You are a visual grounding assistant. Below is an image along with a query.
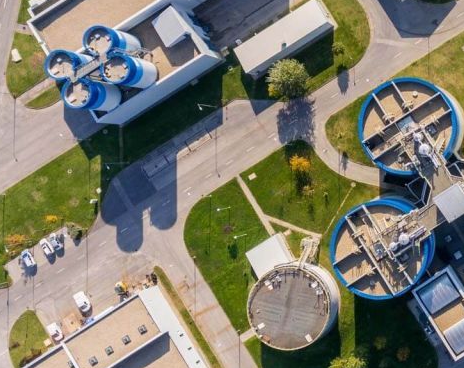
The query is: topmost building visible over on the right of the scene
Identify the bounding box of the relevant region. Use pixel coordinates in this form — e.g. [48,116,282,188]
[234,0,338,73]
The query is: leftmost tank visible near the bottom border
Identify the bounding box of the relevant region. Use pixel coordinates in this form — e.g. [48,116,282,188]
[245,259,339,351]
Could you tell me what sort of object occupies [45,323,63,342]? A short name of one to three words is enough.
vehicle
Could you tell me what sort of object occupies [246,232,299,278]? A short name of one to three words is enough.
shed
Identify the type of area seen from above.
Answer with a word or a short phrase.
industrial area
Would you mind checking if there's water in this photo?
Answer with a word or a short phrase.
No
